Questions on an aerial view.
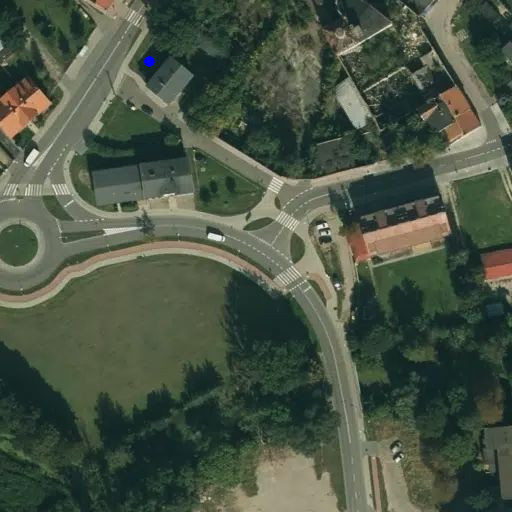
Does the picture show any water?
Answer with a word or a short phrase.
No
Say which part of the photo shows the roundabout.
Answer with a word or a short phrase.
left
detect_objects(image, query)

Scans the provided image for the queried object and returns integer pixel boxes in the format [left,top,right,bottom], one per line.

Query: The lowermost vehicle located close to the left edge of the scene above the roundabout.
[24,148,40,166]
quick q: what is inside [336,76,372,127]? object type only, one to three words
barn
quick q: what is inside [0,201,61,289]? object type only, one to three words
roundabout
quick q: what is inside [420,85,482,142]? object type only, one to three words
house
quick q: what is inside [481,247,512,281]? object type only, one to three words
house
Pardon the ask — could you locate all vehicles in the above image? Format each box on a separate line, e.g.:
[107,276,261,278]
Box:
[318,229,332,237]
[334,280,342,292]
[316,222,330,230]
[208,232,225,242]
[80,7,90,19]
[24,148,40,166]
[124,98,136,108]
[319,236,332,244]
[78,44,90,58]
[390,440,402,453]
[394,452,406,464]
